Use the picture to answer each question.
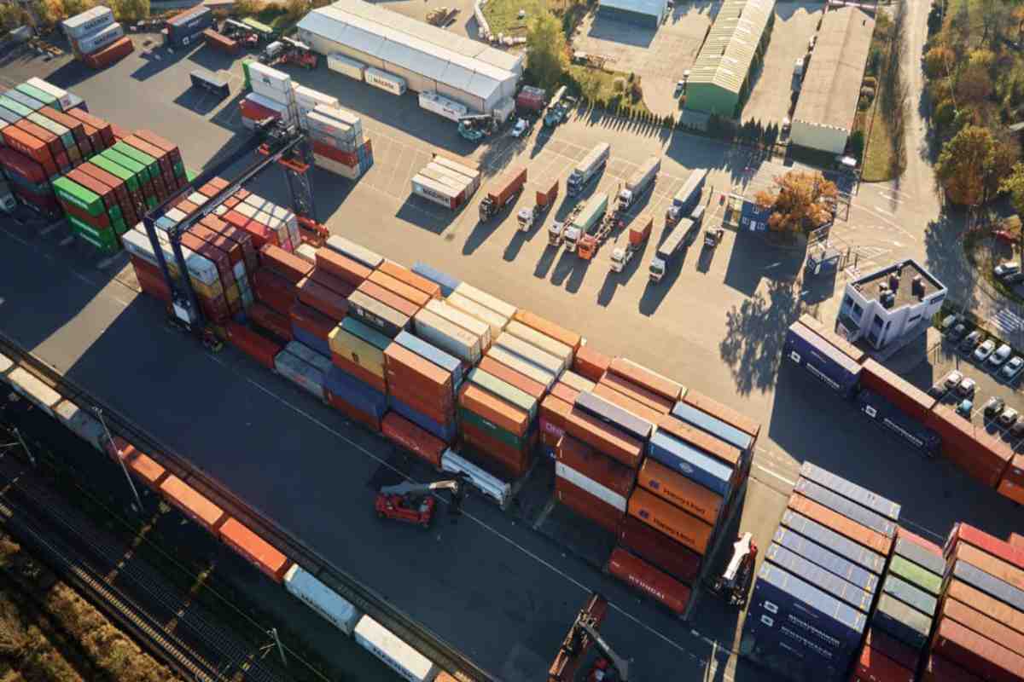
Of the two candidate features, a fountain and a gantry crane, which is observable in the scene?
gantry crane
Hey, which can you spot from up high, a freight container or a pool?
freight container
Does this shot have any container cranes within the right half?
No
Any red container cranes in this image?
No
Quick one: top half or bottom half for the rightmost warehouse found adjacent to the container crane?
top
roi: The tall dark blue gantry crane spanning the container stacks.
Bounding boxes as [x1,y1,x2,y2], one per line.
[133,113,330,348]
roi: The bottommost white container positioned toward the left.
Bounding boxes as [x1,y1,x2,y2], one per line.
[356,616,438,682]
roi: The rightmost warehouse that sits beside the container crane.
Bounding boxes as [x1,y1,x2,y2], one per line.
[289,0,527,115]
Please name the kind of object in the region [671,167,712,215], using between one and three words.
trailer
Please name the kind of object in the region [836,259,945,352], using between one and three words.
building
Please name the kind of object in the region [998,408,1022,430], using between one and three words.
car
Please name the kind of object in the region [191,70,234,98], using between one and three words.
shipping container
